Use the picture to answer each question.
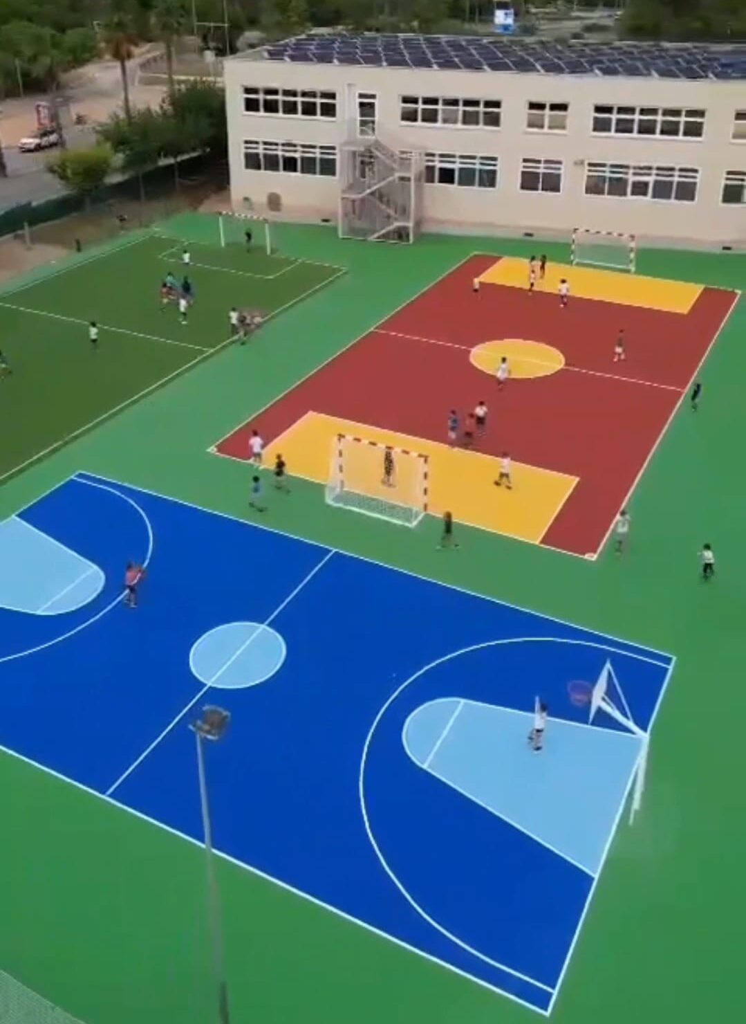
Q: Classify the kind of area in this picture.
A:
sports ground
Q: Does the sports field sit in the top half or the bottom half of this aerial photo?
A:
top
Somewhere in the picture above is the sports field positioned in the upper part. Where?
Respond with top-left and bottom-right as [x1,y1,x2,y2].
[0,233,351,483]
